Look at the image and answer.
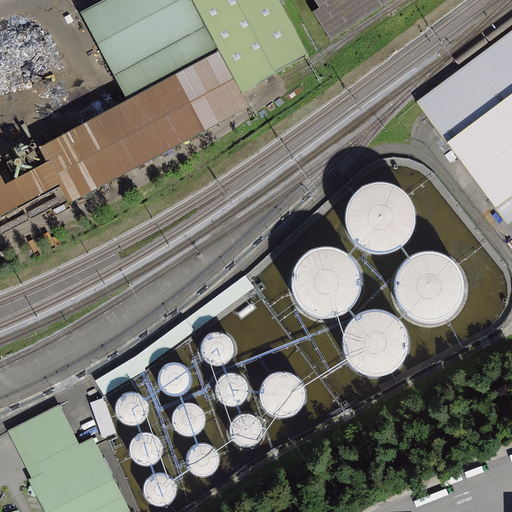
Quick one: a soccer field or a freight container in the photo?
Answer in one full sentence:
The image shows a freight container.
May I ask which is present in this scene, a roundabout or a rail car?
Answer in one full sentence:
Looking from above, you can make out a rail car.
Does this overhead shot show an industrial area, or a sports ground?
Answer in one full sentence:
What you see here is an industrial area.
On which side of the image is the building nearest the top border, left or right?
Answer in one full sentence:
The building nearest the top border is on the right side of the image.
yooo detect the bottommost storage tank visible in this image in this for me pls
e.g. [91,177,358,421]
[142,470,182,508]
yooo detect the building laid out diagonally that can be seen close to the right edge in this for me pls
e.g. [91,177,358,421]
[417,32,512,142]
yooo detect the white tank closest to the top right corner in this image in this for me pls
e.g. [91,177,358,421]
[344,182,420,258]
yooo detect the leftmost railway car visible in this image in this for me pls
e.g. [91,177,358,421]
[0,212,30,234]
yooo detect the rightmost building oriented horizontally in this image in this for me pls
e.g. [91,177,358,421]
[313,0,404,41]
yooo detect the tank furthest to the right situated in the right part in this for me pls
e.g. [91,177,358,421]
[392,252,470,329]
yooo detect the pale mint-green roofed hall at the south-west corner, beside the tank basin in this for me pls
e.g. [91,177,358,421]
[8,405,131,512]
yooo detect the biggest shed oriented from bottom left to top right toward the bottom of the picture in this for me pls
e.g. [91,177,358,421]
[96,274,253,394]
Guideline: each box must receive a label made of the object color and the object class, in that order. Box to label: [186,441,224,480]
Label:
white storage tank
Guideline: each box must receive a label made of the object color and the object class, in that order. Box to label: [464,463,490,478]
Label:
white vehicle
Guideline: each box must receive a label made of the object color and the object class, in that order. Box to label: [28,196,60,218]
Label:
gray rail car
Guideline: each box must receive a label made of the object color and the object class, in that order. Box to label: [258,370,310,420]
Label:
white storage tank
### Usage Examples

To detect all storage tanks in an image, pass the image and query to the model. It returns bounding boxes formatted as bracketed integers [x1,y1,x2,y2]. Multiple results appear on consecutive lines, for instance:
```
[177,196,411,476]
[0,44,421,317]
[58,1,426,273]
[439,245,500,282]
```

[291,246,368,322]
[113,390,154,428]
[186,441,224,480]
[258,370,310,420]
[158,360,197,398]
[128,430,168,468]
[342,308,414,380]
[214,371,254,409]
[142,470,182,508]
[228,412,268,450]
[200,330,239,368]
[172,400,210,439]
[392,252,470,329]
[344,182,420,258]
